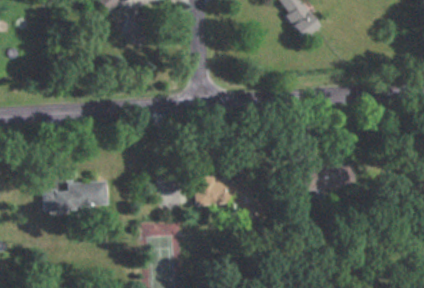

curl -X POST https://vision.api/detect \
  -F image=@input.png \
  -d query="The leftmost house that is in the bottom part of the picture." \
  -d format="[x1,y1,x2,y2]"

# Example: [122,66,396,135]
[43,180,110,212]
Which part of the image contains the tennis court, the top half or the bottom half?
bottom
